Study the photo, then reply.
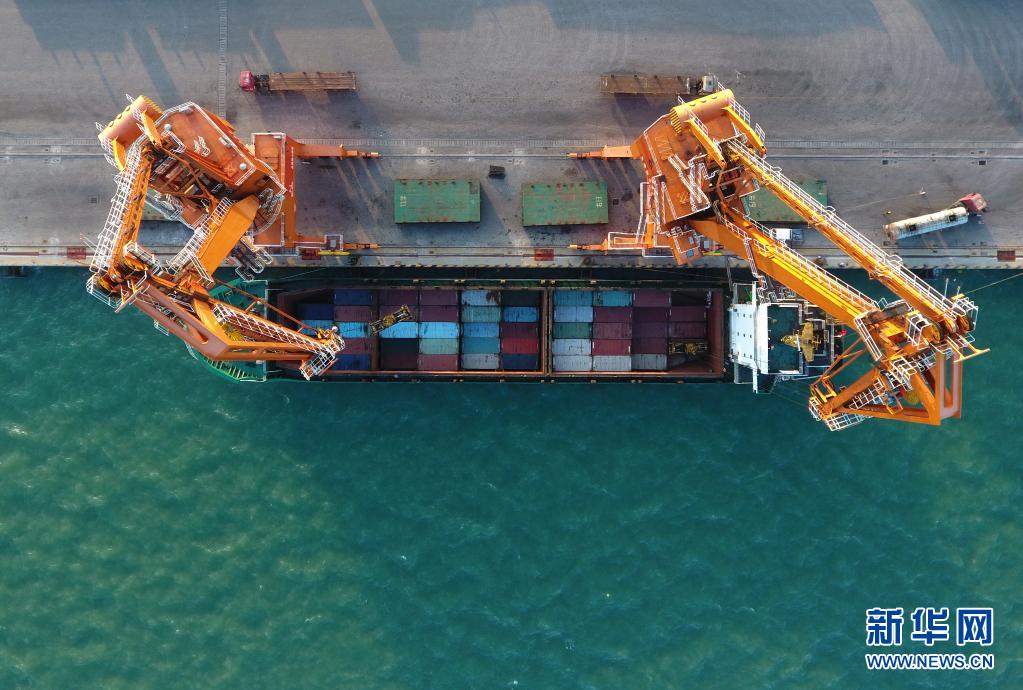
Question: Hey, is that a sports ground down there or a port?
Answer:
port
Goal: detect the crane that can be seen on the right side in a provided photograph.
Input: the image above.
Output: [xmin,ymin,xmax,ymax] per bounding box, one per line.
[569,81,984,428]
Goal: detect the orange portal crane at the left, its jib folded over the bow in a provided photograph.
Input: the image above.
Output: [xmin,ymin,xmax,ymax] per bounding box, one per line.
[78,89,394,377]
